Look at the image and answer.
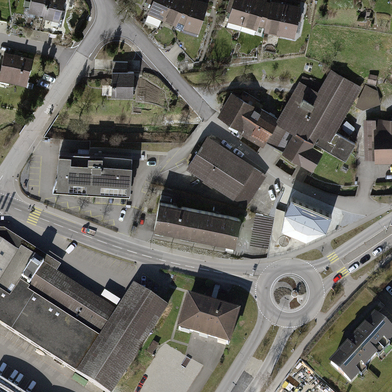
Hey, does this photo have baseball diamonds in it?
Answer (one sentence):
No, I can't see a single baseball diamond in this photo.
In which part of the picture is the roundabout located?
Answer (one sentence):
Look in the bottom right portion of the view to spot the roundabout.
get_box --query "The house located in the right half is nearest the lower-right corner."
[330,308,392,380]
